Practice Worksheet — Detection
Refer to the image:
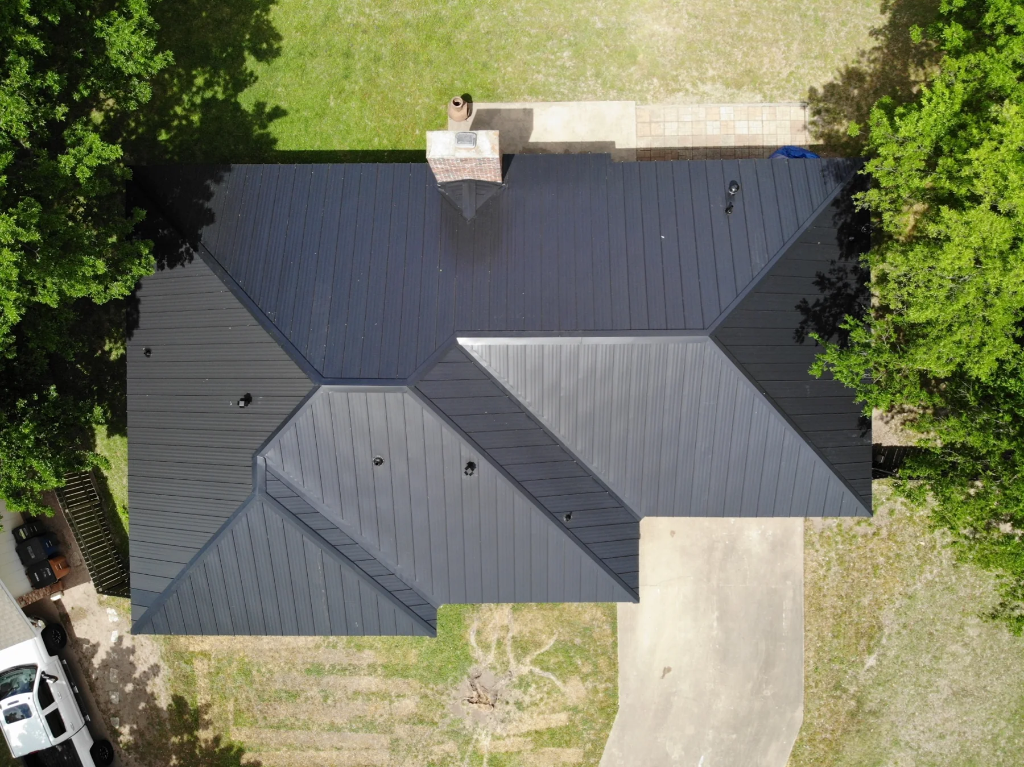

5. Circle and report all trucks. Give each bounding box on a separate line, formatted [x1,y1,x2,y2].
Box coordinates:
[0,607,112,767]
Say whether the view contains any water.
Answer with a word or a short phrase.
No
